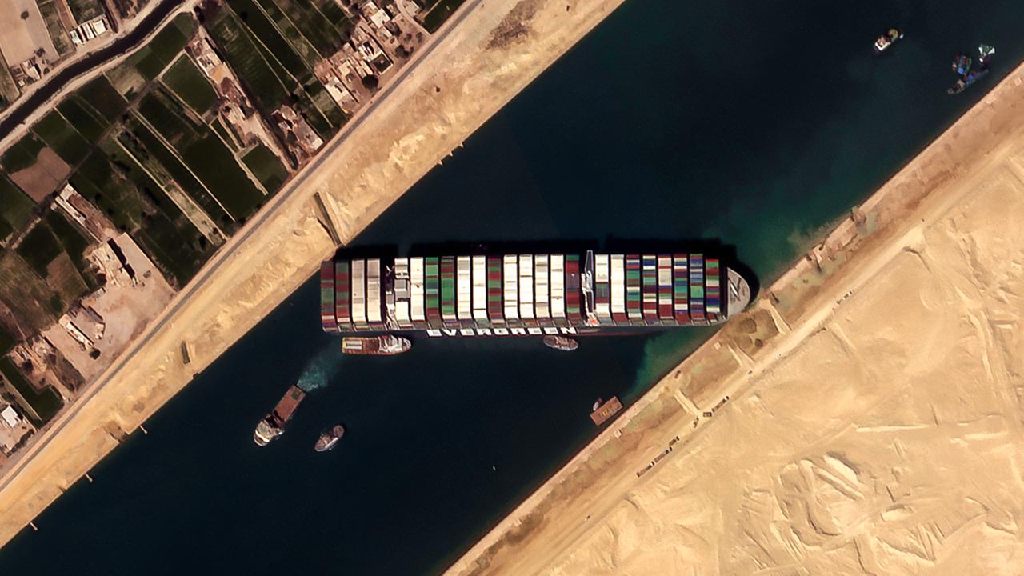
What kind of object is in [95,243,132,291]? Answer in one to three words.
barn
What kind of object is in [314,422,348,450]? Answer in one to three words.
boat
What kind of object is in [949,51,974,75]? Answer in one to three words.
ship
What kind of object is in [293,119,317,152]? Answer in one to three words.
house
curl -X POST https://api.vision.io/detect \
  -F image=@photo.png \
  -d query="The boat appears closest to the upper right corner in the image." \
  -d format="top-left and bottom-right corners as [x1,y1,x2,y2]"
[978,44,995,63]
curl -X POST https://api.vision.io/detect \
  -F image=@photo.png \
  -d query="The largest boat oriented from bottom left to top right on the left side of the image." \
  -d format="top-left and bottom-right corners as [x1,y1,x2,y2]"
[256,384,306,445]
